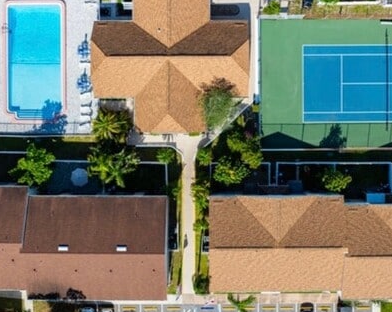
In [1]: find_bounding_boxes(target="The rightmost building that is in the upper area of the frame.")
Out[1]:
[91,0,249,131]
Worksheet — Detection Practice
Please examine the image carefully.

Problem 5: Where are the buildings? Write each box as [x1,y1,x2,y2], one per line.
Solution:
[18,193,171,301]
[91,0,249,131]
[208,189,351,292]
